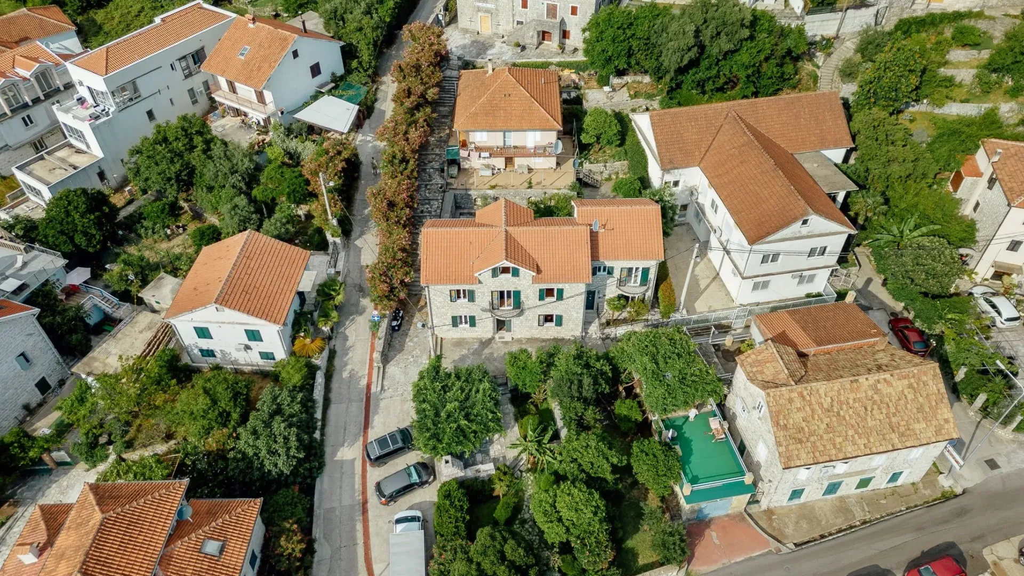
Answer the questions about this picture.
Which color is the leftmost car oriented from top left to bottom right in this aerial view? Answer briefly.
red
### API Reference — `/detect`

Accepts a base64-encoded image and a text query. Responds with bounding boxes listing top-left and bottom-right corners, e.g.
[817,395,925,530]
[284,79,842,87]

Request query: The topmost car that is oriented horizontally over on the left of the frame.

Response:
[359,431,423,466]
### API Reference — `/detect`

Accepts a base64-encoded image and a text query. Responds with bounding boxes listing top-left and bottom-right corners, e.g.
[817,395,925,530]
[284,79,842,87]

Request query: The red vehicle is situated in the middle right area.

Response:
[884,318,938,358]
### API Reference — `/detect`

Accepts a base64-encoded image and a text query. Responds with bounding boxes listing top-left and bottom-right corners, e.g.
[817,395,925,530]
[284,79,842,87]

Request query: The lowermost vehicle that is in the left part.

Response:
[385,510,432,576]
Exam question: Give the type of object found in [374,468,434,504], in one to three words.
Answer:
car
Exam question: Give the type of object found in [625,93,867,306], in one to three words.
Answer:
house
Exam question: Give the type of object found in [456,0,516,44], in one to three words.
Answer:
building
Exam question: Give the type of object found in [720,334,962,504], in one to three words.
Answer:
house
